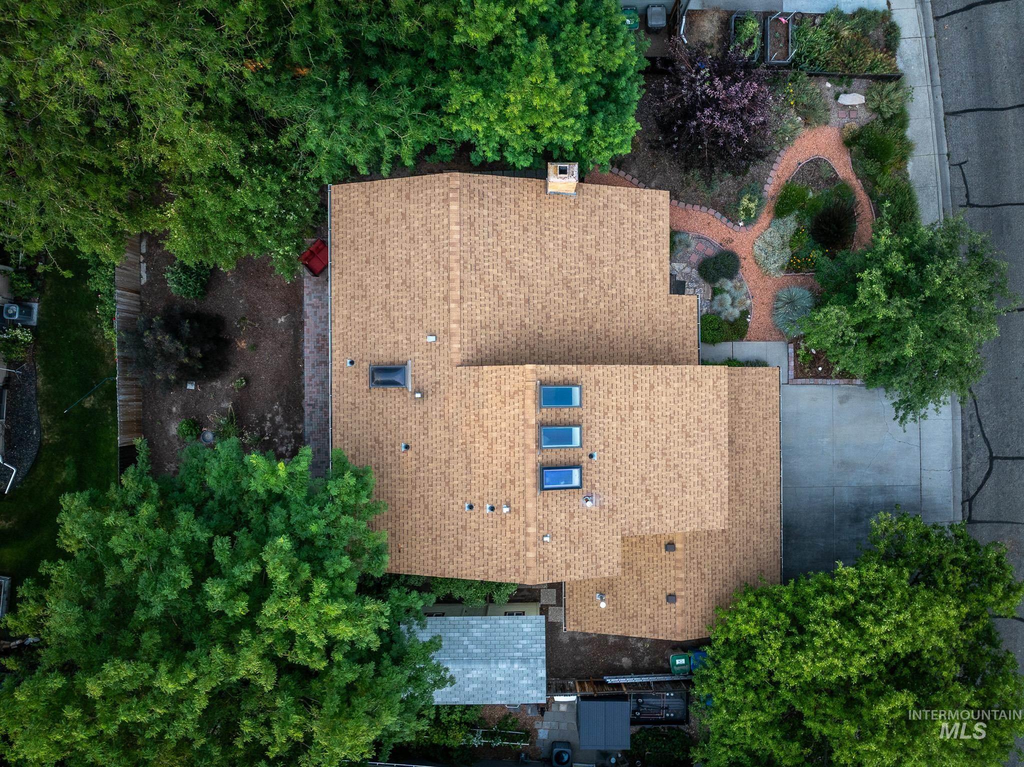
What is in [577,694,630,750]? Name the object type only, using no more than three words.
shed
